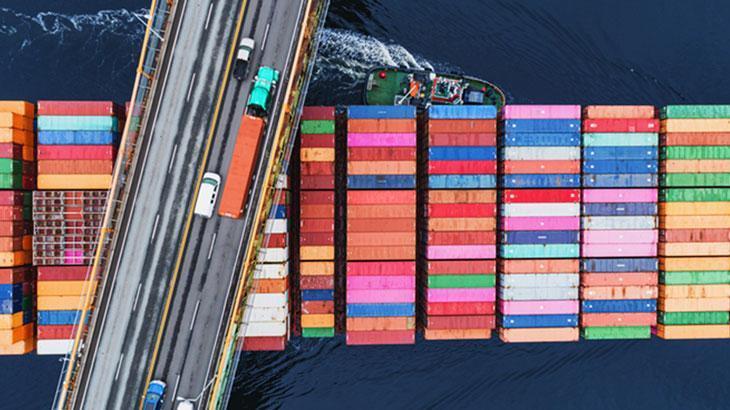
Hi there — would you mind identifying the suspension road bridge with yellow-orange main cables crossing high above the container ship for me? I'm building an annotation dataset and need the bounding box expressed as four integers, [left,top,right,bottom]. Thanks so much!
[47,0,331,410]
